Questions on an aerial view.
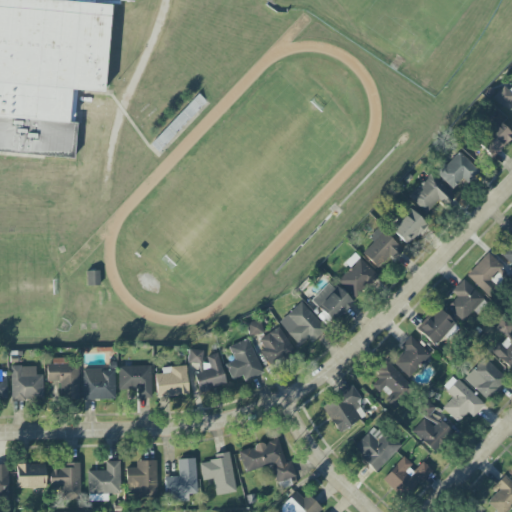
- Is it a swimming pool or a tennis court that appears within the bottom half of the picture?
swimming pool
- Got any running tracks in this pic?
Yes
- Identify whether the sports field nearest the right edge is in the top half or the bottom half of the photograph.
top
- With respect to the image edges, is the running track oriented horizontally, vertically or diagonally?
diagonally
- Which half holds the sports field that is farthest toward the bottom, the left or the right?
left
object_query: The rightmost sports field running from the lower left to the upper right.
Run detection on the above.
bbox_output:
[116,52,370,315]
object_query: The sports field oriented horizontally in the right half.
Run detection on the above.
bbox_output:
[315,0,473,65]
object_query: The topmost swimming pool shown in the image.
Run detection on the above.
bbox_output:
[303,274,329,300]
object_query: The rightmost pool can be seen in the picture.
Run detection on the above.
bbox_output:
[414,364,434,384]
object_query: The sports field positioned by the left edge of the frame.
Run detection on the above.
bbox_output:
[0,242,58,335]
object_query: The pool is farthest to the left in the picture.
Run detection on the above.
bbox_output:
[84,346,118,369]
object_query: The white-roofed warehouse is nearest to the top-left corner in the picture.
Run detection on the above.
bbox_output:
[0,0,122,158]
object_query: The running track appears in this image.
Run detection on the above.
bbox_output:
[104,14,382,326]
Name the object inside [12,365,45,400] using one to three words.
house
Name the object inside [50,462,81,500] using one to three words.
house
